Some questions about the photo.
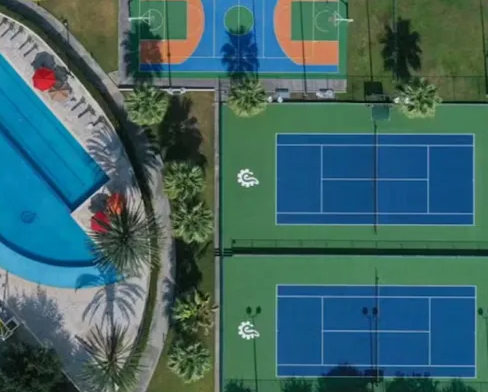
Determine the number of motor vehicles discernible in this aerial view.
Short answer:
0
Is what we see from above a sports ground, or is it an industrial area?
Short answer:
sports ground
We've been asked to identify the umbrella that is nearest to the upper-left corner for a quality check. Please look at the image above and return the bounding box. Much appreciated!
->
[32,67,56,91]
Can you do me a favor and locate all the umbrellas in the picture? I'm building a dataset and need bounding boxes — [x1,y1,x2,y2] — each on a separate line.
[32,67,56,91]
[107,194,125,212]
[49,84,68,103]
[91,212,110,231]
